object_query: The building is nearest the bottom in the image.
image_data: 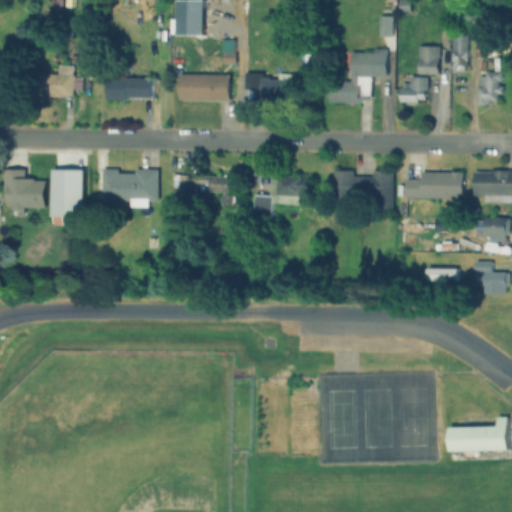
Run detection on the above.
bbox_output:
[446,416,508,452]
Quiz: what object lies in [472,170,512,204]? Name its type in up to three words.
house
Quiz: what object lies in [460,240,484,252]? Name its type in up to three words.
vehicle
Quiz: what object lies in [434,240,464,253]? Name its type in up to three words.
vehicle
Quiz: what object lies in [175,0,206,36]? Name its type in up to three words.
building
